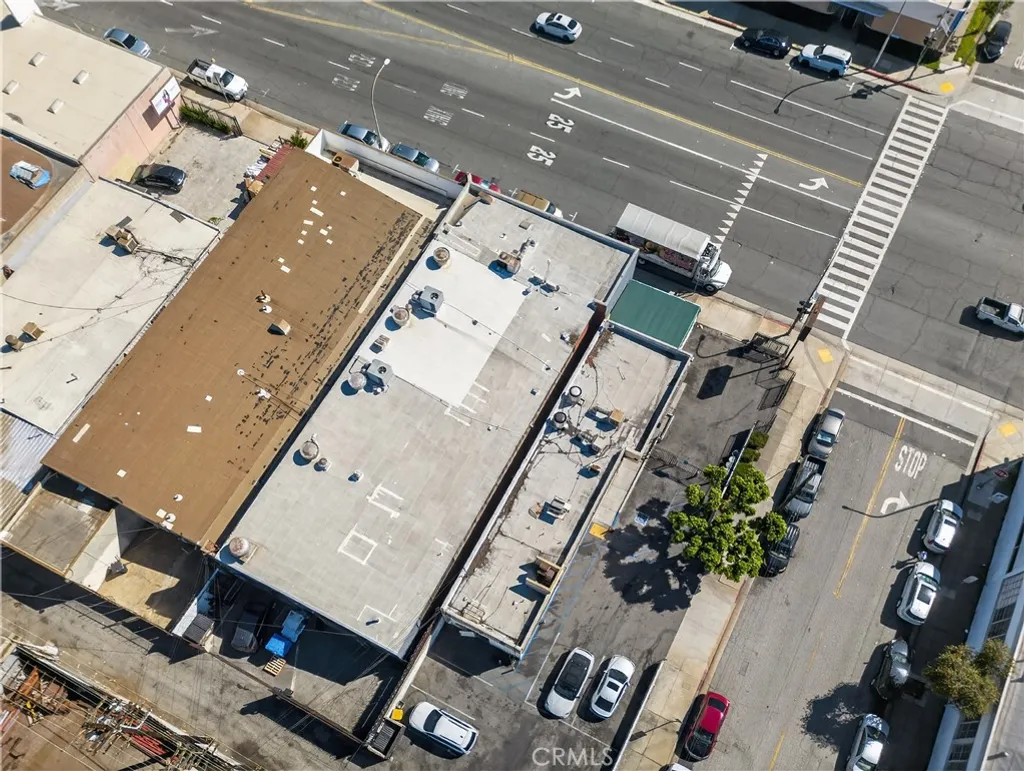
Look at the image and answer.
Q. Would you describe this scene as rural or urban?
urban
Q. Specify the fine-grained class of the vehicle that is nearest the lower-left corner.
car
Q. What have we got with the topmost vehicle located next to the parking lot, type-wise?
truck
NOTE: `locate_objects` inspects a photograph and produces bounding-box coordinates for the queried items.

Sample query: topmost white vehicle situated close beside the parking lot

[614,200,743,289]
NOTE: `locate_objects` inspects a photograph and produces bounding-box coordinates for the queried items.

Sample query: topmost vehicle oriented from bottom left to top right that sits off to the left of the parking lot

[217,592,278,667]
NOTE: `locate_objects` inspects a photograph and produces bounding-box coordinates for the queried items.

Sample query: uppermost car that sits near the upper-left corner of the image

[106,26,155,56]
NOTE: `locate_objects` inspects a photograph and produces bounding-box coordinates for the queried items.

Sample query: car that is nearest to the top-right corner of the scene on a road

[983,19,1019,66]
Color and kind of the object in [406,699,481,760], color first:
white car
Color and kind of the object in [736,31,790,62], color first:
black car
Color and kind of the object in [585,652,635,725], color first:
white car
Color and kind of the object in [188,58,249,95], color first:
white truck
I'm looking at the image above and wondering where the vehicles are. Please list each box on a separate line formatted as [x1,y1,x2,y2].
[920,496,964,558]
[841,702,889,771]
[135,162,188,197]
[585,652,635,725]
[614,200,743,289]
[450,167,504,191]
[338,120,390,154]
[545,646,598,722]
[736,31,790,62]
[683,691,732,764]
[868,635,915,705]
[961,290,1024,339]
[757,516,803,581]
[809,407,850,461]
[894,559,941,629]
[406,699,481,760]
[188,58,249,95]
[387,140,441,175]
[217,592,278,667]
[106,26,155,56]
[533,14,583,45]
[783,451,832,524]
[983,19,1019,66]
